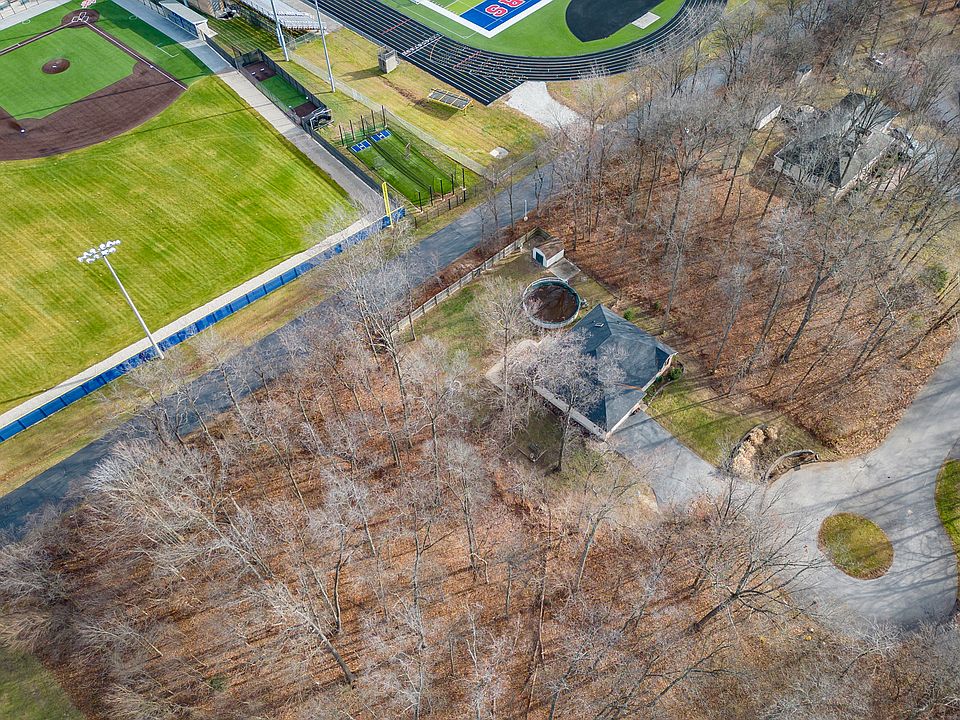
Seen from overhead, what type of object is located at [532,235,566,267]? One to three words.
shed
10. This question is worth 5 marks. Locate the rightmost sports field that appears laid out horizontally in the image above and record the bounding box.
[374,0,682,55]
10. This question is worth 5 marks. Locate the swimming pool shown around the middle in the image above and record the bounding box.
[522,281,580,330]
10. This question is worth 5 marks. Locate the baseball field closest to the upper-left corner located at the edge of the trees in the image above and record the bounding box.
[0,0,403,441]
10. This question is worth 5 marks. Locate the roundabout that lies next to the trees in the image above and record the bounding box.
[820,515,892,578]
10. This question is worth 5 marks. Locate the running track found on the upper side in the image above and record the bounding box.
[296,0,730,101]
